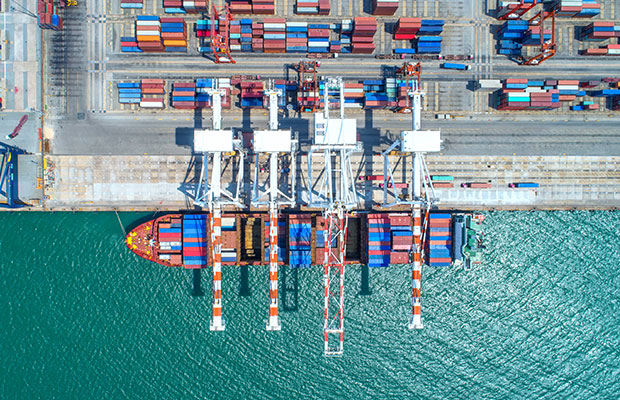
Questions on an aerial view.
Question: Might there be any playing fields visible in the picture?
No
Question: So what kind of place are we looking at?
port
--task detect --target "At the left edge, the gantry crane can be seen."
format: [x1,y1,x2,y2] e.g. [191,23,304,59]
[0,141,41,209]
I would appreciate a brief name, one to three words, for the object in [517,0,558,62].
crane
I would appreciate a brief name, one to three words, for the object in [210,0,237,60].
crane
